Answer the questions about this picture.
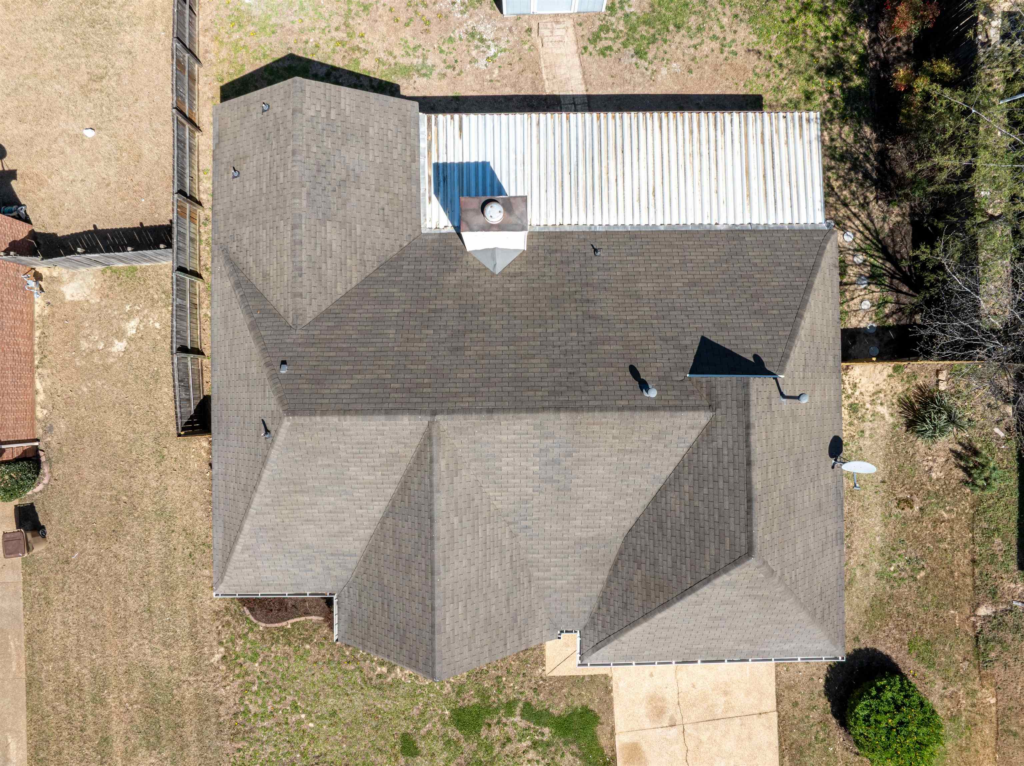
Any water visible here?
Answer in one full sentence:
No, there's no water in this view.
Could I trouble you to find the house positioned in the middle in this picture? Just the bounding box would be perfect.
[210,77,847,682]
